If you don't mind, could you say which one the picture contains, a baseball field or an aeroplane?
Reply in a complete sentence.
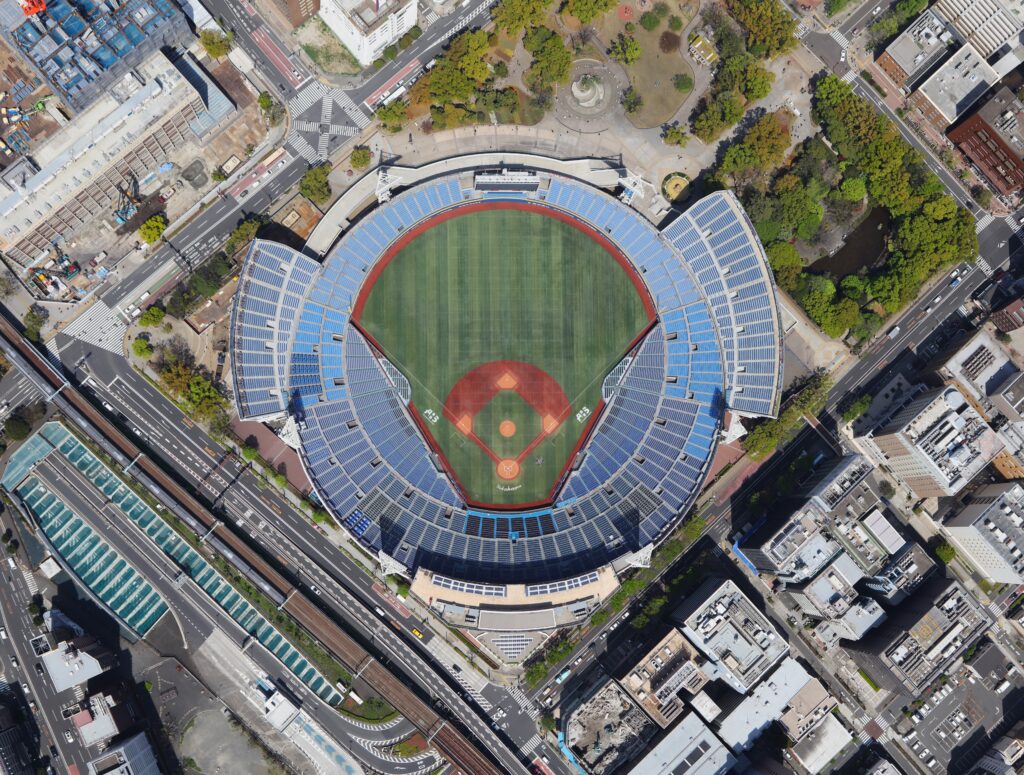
The image shows a baseball field.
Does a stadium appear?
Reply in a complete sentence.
Yes, this view includes a stadium.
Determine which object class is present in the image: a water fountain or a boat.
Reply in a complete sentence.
Looking from above, you can make out a water fountain.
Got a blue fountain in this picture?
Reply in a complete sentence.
No, the picture doesn't show any blue fountain.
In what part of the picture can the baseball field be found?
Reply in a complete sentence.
The baseball field sits in the center section of the image.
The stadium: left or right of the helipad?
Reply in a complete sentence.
The stadium appears to the left of the helipad in this view.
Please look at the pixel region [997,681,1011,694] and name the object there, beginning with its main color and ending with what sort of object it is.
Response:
white vehicle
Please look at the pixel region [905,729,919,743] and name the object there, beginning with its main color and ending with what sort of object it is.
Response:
white vehicle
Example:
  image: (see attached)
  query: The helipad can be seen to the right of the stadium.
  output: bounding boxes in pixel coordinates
[909,606,951,649]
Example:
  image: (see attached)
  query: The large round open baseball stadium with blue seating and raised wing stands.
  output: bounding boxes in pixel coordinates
[231,152,786,630]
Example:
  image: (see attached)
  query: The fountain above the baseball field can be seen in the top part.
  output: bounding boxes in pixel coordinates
[556,59,620,123]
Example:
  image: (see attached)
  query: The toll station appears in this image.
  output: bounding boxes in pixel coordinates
[263,690,301,731]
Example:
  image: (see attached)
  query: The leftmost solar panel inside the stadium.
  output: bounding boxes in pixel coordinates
[433,573,504,597]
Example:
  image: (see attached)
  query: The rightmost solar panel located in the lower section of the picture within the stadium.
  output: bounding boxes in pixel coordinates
[529,570,600,596]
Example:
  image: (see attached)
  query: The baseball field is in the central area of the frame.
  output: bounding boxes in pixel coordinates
[351,204,655,511]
